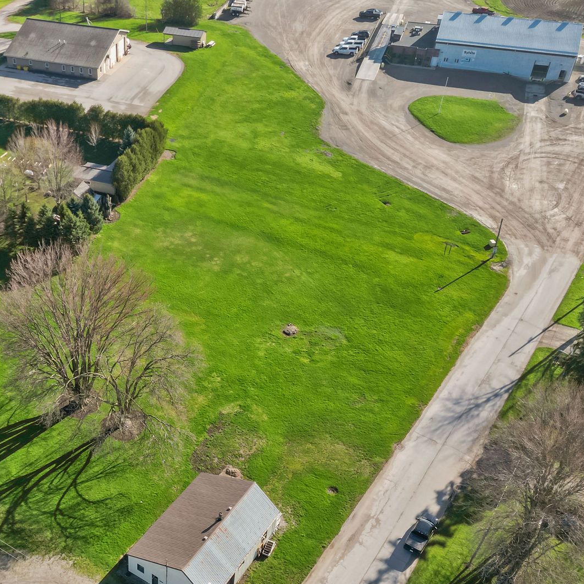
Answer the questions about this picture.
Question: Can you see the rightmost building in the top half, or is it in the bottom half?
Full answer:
The top half of the photo is where the rightmost building is.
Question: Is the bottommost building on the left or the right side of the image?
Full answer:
The bottommost building sits on the left side.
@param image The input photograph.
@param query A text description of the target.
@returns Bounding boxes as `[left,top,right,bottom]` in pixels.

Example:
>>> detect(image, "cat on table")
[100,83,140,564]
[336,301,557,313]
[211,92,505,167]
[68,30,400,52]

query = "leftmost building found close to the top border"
[4,19,144,81]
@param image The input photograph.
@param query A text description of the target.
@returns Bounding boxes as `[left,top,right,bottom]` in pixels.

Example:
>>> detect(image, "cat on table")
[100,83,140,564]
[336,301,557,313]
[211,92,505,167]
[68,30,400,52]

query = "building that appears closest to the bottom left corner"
[125,472,283,584]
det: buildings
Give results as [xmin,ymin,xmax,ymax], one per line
[163,24,206,50]
[4,19,144,81]
[78,157,119,199]
[435,8,580,82]
[125,472,283,584]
